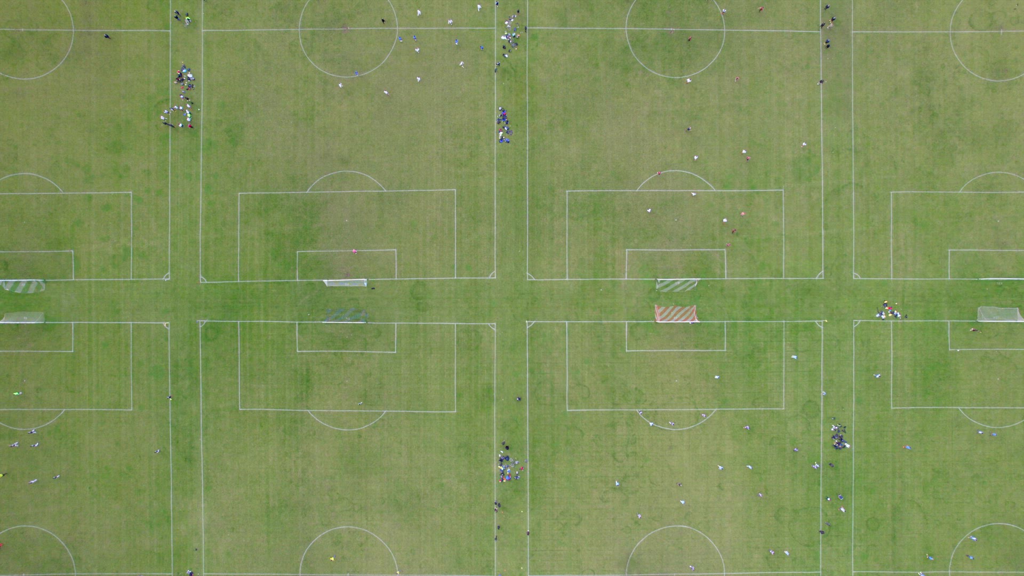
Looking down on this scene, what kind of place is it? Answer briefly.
sports ground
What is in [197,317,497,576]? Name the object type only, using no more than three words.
soccer field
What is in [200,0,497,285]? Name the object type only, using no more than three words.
soccer field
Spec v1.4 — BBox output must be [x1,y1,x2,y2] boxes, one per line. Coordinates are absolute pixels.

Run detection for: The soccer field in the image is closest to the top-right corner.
[852,0,1024,279]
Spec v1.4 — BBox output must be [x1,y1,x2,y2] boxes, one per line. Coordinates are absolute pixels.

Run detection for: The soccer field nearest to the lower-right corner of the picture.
[852,316,1024,576]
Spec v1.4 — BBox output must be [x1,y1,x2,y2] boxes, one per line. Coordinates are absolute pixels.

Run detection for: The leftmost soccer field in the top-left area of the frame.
[0,0,171,281]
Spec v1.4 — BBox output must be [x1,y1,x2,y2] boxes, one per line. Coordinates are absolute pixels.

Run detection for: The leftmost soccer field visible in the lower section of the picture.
[0,318,172,576]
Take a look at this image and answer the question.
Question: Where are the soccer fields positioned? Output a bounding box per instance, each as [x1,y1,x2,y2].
[0,0,171,281]
[526,0,824,284]
[200,0,497,285]
[0,318,172,576]
[197,317,497,576]
[527,318,823,576]
[852,316,1024,576]
[852,0,1024,279]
